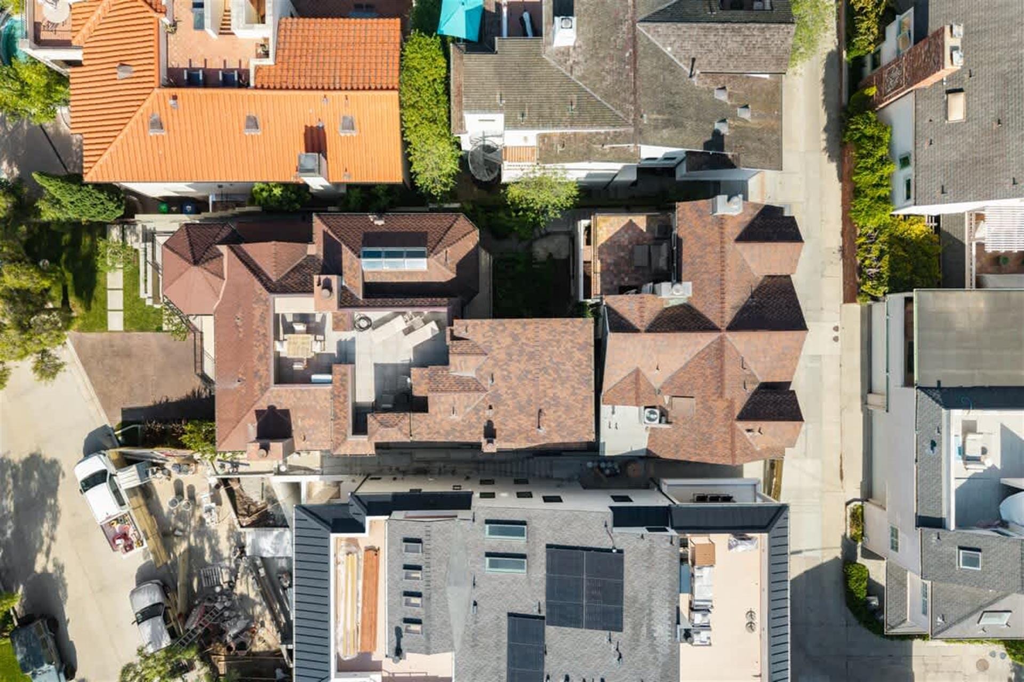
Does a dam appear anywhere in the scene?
No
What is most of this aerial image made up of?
buildings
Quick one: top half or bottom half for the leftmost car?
bottom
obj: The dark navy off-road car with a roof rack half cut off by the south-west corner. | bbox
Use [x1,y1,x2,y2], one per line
[12,599,87,682]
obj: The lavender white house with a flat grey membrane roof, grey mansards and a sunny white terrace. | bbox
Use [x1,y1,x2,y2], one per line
[856,289,1024,648]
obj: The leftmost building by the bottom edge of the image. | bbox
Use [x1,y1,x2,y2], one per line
[292,465,791,682]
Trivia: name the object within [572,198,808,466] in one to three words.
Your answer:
house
